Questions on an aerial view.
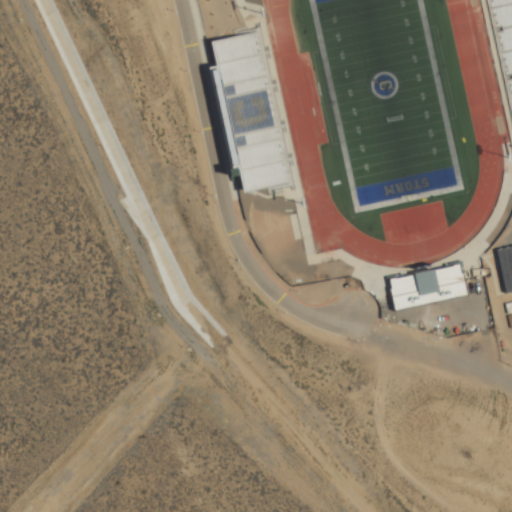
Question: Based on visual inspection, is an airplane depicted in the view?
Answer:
No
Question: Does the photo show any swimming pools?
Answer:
No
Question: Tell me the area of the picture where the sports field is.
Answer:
top right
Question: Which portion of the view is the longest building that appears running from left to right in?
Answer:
right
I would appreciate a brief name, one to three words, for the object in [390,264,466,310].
building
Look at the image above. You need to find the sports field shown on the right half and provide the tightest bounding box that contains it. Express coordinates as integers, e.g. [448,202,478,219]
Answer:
[289,0,478,242]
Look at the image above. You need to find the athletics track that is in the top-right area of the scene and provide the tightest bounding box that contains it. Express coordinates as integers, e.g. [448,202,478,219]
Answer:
[263,0,511,268]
